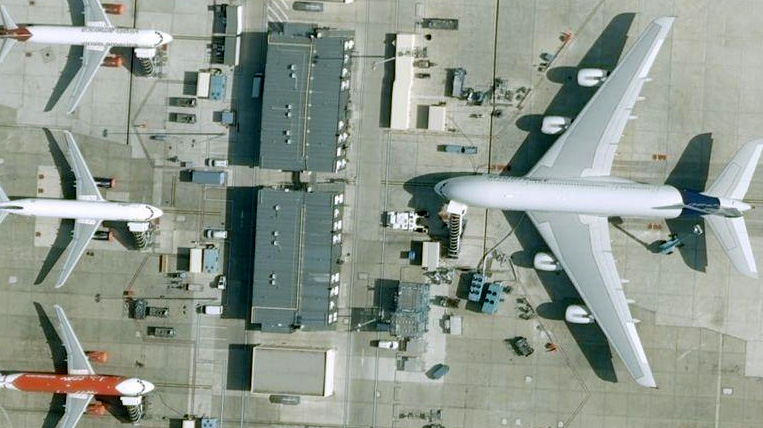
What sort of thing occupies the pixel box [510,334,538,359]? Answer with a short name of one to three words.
work vehicle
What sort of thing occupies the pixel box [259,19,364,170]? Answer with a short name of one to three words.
building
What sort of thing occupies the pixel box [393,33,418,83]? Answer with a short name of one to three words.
shed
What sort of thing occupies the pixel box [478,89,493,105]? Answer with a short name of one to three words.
work vehicle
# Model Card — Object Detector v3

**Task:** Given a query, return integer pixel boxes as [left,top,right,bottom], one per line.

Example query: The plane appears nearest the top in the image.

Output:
[0,0,172,117]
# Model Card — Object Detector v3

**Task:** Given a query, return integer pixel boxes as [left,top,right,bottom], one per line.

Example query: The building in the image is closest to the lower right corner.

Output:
[421,240,443,268]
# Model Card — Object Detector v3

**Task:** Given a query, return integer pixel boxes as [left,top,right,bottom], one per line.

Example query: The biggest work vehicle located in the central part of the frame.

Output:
[390,210,431,233]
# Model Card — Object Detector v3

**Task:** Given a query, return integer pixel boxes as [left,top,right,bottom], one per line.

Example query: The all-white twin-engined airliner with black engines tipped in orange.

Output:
[0,130,162,291]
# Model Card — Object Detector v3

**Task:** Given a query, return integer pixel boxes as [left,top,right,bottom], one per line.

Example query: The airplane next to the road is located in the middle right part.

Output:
[434,16,763,388]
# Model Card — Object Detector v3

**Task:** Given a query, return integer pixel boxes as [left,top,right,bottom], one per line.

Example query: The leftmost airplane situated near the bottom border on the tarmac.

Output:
[0,304,154,428]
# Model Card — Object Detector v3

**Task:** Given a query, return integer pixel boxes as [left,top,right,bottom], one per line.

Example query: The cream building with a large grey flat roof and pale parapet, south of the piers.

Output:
[250,344,335,397]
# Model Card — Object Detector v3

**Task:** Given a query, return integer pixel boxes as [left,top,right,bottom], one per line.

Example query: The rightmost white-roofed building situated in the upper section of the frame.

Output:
[428,105,449,131]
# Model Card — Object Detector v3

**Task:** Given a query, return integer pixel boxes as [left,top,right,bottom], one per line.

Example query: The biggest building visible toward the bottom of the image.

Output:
[251,186,355,333]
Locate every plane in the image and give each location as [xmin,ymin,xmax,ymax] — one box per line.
[434,16,763,388]
[0,130,162,291]
[0,0,172,117]
[0,304,154,428]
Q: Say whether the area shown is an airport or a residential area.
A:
airport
